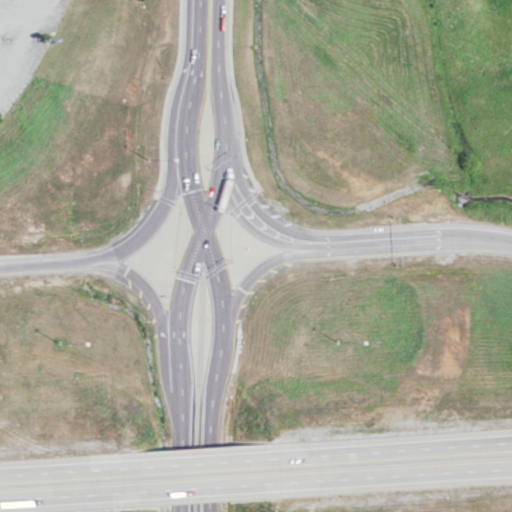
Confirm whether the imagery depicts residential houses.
No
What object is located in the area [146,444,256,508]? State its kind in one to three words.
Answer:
overpass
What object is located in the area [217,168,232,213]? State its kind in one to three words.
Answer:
vehicle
